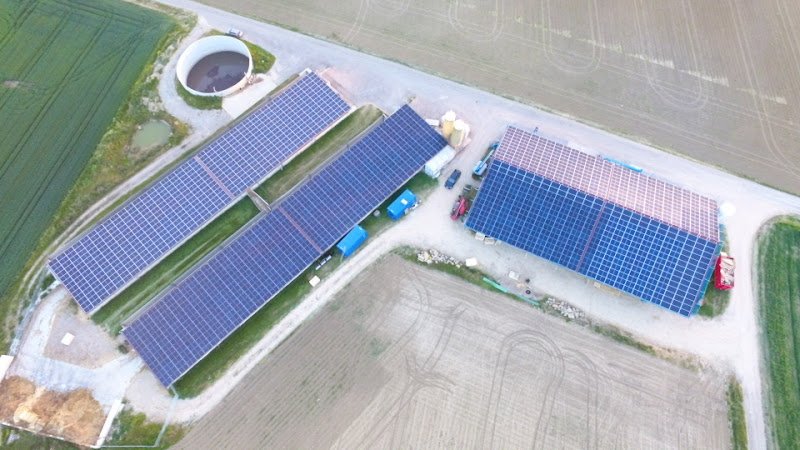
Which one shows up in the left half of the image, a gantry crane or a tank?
tank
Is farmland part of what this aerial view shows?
Yes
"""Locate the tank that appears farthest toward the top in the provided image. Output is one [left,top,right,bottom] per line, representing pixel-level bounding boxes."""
[176,36,266,102]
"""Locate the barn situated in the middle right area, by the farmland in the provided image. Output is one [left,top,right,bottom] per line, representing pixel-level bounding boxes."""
[464,125,723,320]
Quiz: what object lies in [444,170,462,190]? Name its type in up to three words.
car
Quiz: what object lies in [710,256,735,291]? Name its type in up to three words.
trailer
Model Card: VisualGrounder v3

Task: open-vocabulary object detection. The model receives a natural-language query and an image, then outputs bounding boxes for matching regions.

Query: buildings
[45,66,355,318]
[120,99,451,390]
[464,125,723,320]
